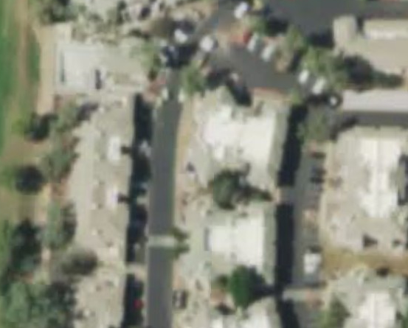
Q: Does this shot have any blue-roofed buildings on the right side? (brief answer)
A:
No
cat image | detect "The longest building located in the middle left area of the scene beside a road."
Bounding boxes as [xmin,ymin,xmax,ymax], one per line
[68,91,135,267]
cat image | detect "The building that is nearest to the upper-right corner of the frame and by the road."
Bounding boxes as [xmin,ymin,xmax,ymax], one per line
[335,16,408,74]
